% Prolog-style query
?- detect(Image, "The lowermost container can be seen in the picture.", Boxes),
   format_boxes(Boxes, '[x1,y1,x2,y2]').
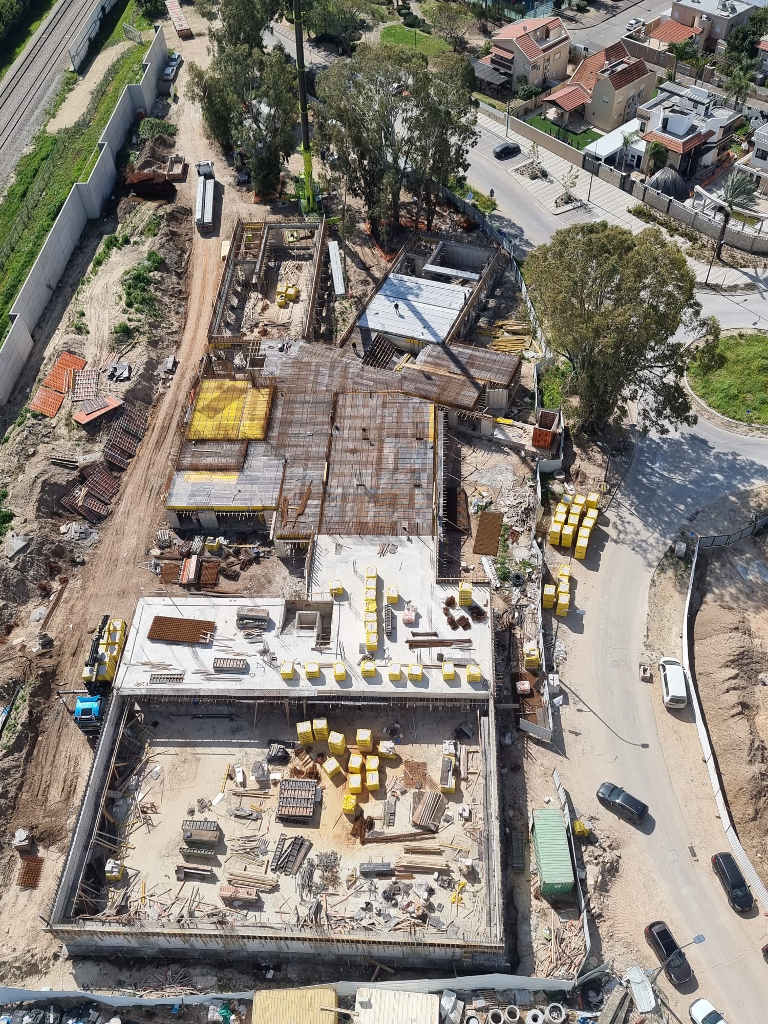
[530,807,574,894]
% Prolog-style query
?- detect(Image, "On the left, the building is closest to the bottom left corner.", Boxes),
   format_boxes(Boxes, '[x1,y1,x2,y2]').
[253,988,342,1024]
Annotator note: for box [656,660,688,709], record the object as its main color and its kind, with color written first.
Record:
white car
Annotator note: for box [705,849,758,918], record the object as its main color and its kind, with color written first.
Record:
black car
